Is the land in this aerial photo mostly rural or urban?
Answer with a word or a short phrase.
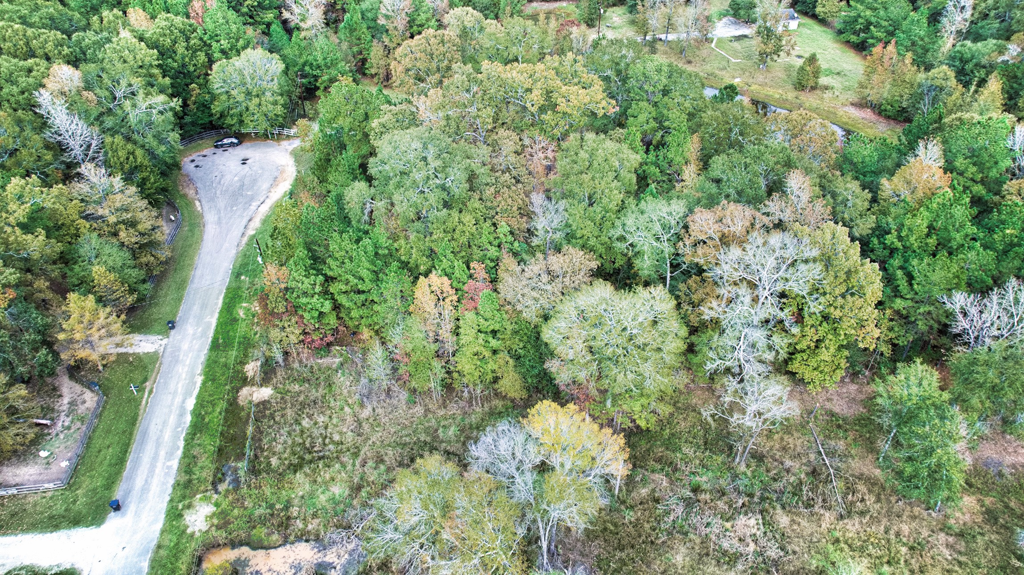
rural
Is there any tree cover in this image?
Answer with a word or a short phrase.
Yes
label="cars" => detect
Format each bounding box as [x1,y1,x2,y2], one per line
[213,133,242,146]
